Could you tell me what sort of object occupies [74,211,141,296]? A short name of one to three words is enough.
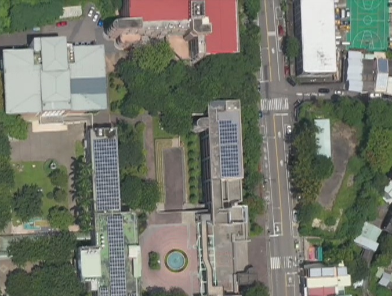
building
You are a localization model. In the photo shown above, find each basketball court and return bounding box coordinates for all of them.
[346,0,389,50]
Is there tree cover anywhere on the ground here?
Yes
